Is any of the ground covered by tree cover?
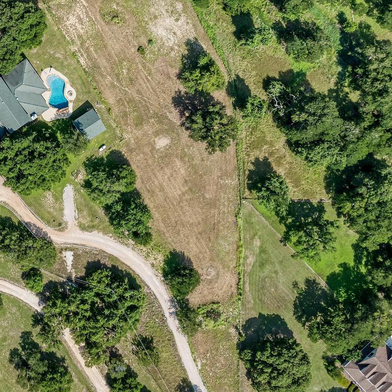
Yes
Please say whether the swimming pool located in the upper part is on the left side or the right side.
left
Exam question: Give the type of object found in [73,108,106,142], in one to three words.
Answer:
shed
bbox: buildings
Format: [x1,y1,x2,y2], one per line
[73,108,106,142]
[0,57,50,139]
[343,342,392,392]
